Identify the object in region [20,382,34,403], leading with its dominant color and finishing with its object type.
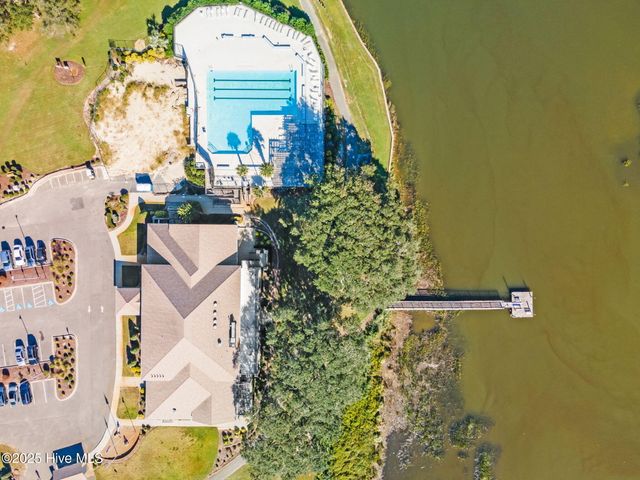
blue vehicle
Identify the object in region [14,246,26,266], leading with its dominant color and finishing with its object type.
white vehicle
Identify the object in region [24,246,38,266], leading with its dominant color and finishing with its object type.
blue vehicle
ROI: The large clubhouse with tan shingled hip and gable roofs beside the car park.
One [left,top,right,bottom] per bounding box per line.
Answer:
[116,222,260,428]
